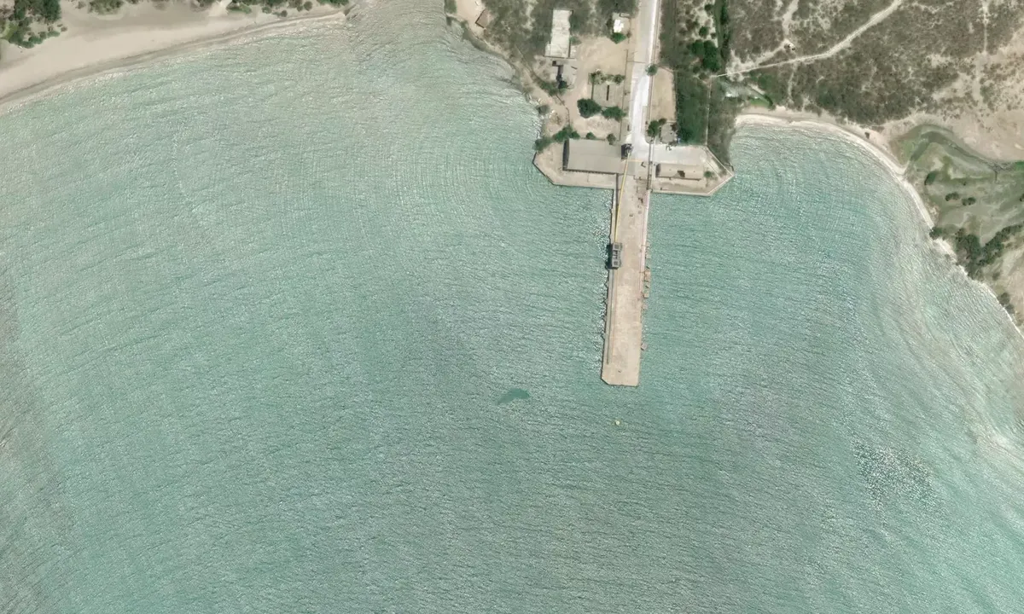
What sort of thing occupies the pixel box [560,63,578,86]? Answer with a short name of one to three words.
house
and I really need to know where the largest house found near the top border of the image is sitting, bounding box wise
[543,10,576,58]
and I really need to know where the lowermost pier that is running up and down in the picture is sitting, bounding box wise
[601,187,651,387]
